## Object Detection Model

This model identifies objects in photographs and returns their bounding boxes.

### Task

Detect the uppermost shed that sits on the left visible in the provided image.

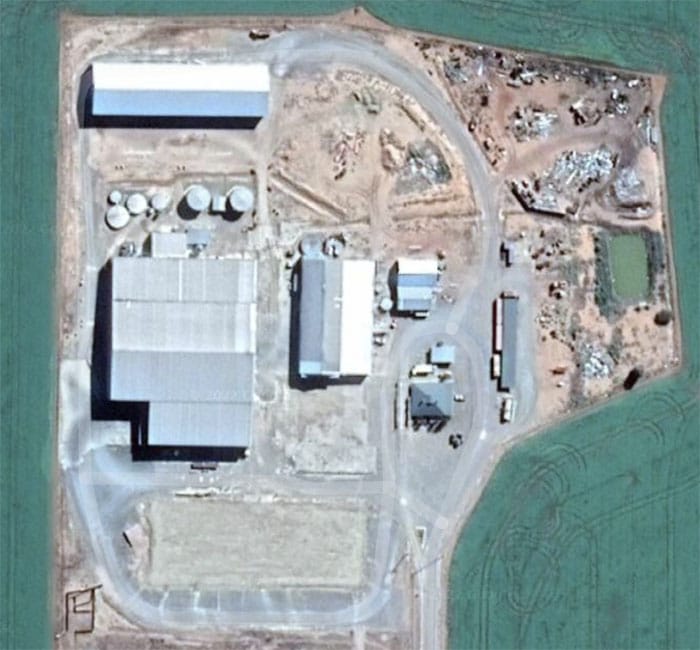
[92,62,270,117]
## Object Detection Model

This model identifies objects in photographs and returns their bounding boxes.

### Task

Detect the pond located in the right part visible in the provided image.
[603,226,656,312]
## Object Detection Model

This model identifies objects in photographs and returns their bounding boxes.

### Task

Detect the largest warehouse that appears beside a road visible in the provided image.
[111,258,256,448]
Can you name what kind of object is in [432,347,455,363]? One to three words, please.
shed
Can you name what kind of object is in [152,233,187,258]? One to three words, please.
building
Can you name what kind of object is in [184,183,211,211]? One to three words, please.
silo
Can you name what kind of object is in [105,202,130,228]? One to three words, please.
water tank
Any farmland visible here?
Yes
